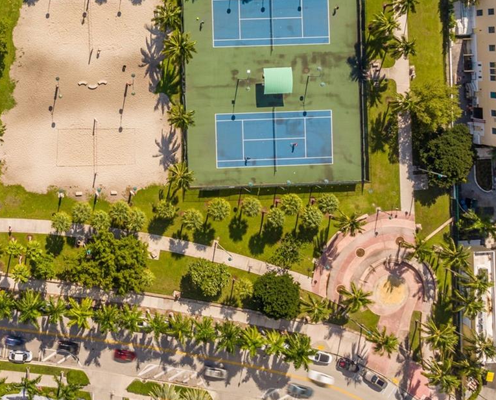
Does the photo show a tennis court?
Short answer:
Yes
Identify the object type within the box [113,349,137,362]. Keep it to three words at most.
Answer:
vehicle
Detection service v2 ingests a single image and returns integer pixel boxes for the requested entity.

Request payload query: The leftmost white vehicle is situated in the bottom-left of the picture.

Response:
[8,351,30,363]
